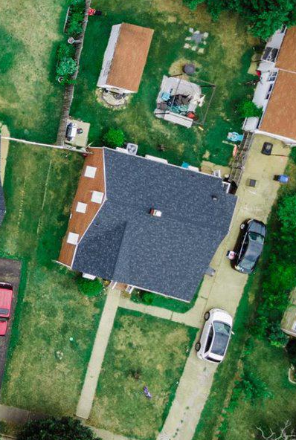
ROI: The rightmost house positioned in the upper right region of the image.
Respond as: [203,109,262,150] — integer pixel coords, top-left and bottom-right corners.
[225,28,296,144]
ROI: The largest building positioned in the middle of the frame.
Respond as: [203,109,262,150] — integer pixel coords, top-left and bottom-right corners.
[58,147,236,302]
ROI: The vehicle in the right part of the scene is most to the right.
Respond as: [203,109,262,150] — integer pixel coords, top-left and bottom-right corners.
[224,216,266,276]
